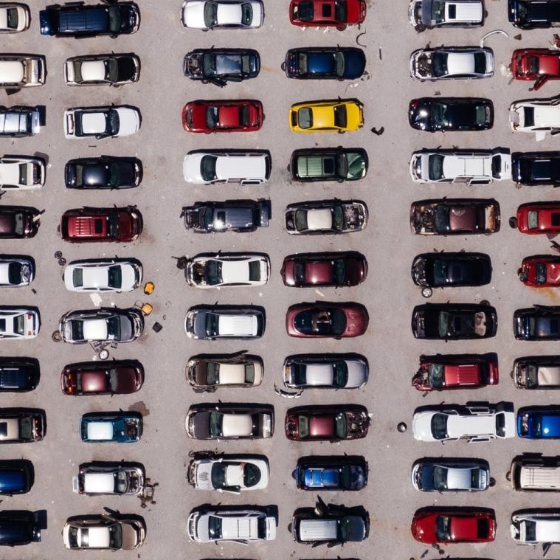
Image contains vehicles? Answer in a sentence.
Yes, looking at the shot, I can spot a vehicle.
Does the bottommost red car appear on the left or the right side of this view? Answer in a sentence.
It is on the right.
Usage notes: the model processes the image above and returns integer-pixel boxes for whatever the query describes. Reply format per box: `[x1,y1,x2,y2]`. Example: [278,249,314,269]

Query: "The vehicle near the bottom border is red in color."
[412,510,495,547]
